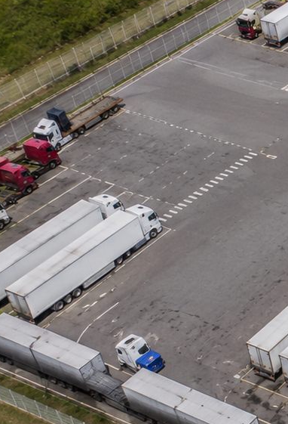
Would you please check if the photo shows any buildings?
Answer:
No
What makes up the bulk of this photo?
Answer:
paved ground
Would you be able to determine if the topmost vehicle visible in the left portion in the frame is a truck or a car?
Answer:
truck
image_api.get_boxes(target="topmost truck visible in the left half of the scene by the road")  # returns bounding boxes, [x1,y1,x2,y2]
[27,93,126,149]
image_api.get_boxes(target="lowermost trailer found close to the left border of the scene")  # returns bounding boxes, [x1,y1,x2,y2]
[0,312,110,398]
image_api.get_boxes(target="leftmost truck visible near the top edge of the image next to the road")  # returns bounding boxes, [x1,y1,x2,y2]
[242,8,268,39]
